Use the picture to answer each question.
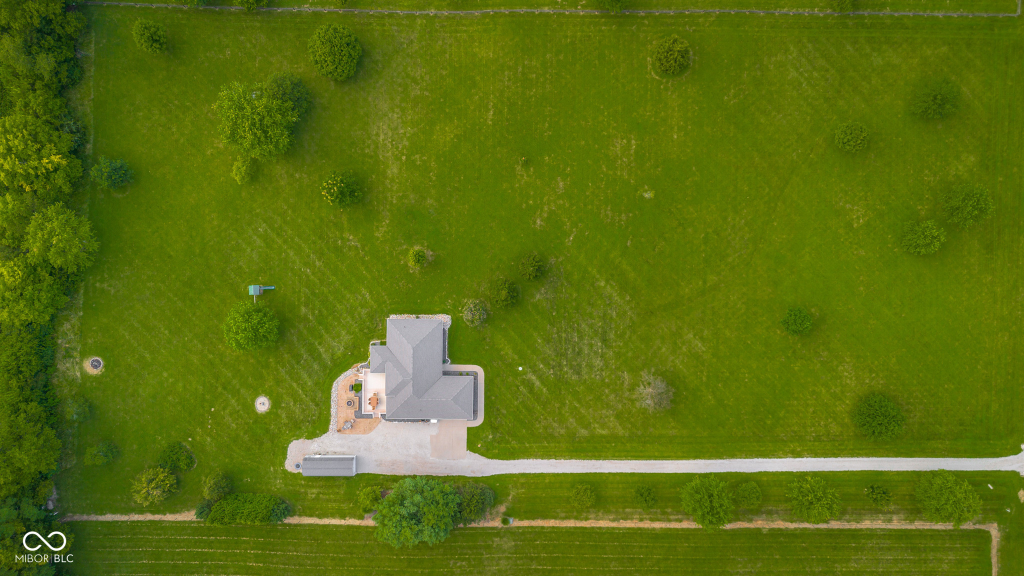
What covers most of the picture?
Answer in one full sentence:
For the most part, this view shows grass.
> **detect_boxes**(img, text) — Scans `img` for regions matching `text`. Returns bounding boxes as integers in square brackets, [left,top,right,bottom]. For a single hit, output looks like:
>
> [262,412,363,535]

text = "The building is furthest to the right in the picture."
[370,318,474,420]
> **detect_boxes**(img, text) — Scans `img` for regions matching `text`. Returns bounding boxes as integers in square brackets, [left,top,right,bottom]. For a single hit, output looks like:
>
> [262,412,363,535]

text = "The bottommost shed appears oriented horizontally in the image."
[300,455,357,477]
